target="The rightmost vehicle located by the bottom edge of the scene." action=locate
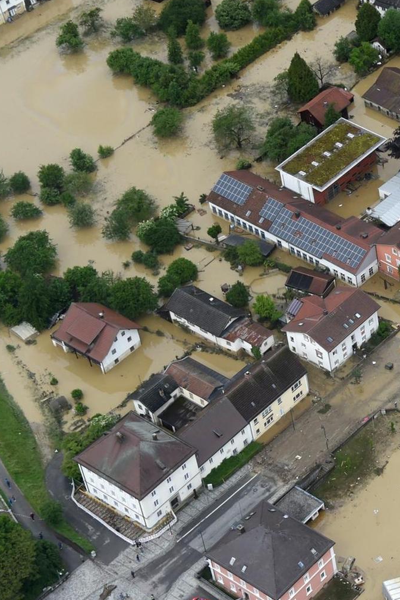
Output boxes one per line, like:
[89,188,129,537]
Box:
[342,557,358,573]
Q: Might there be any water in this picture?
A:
Yes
